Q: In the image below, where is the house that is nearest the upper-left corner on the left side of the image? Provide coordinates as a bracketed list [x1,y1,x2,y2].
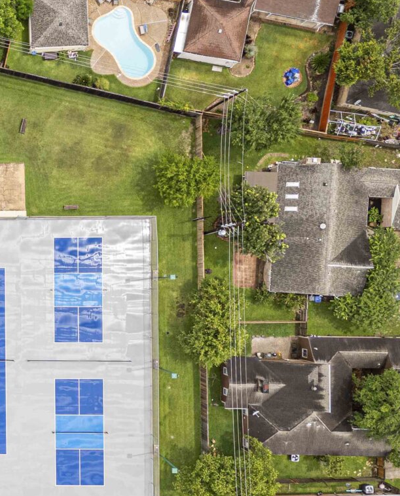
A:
[29,0,90,51]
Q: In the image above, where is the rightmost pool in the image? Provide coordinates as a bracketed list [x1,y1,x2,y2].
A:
[91,4,157,80]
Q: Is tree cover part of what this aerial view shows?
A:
Yes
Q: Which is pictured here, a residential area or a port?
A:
residential area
